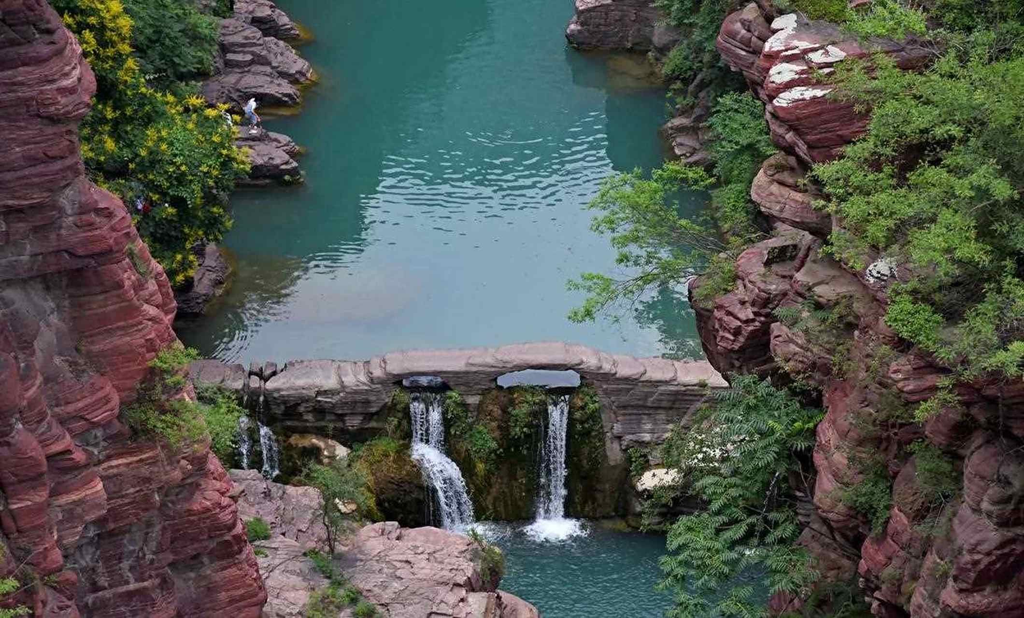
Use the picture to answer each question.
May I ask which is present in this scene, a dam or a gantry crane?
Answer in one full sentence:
I can see a dam in this picture.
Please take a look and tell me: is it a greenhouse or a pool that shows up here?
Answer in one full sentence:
Visible in the photo is a pool.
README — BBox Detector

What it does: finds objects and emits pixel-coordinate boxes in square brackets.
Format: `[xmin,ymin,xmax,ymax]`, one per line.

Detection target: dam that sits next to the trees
[187,335,792,462]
